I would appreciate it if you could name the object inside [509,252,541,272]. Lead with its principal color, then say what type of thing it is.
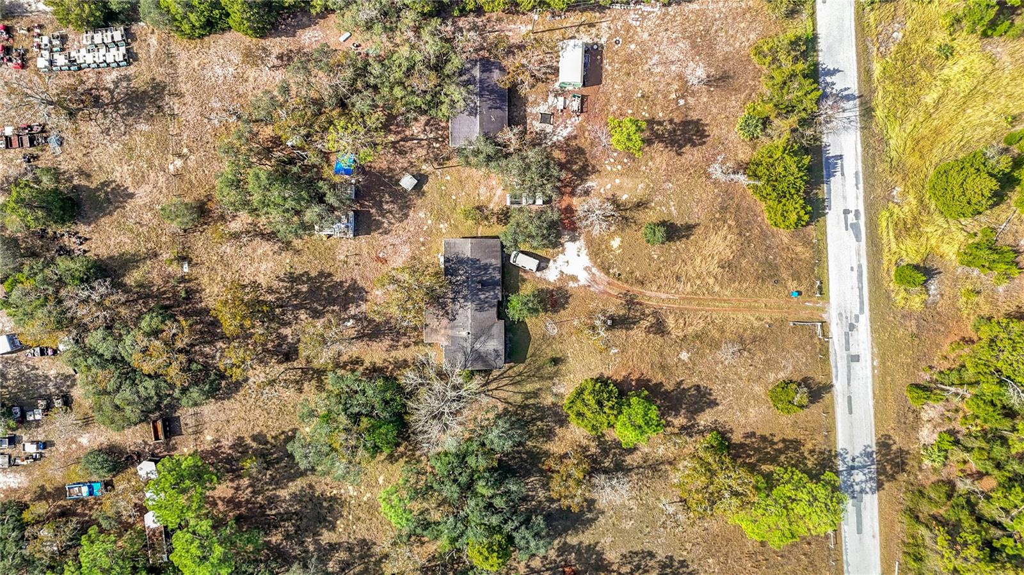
white vehicle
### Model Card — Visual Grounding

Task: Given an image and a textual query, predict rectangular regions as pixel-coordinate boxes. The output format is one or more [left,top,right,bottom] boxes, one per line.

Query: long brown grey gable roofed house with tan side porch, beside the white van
[424,238,505,370]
